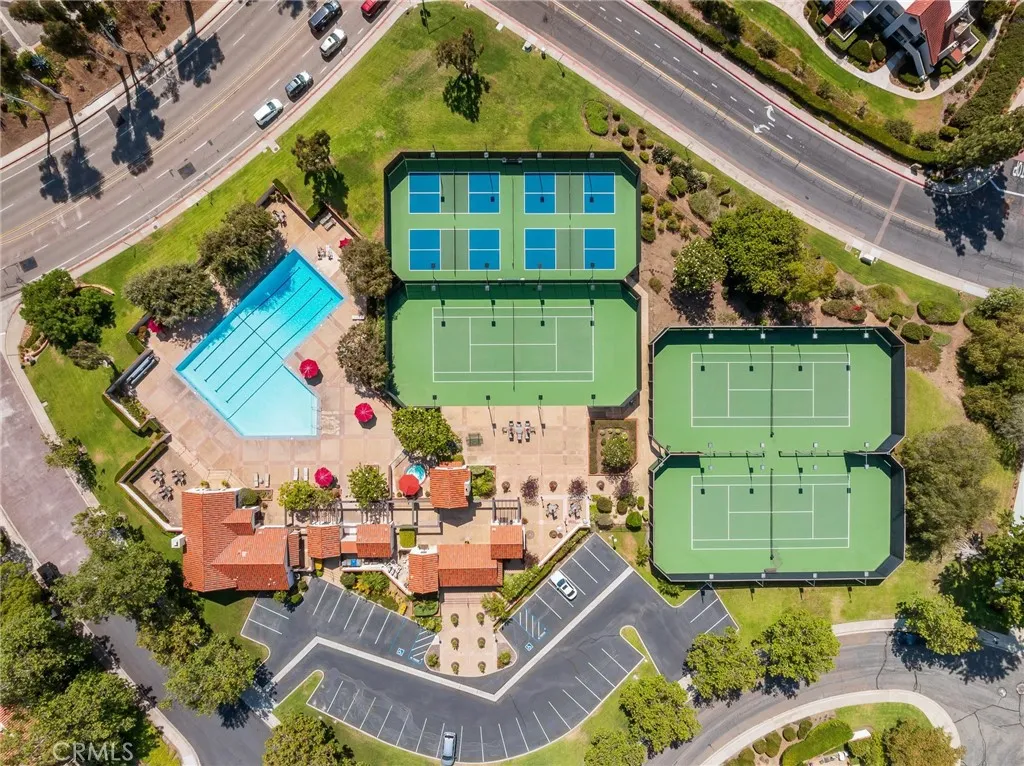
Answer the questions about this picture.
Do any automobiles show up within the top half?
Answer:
Yes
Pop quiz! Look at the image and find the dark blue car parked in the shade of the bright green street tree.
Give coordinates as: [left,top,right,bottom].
[892,628,925,644]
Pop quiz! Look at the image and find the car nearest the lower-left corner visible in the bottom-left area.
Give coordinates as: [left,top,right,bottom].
[44,560,72,594]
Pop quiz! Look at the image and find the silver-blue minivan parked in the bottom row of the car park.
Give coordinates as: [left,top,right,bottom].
[440,729,456,765]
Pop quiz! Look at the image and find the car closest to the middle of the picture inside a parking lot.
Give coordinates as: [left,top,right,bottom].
[550,569,578,601]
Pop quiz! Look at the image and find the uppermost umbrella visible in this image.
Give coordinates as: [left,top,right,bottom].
[339,234,356,251]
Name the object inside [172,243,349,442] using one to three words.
swimming pool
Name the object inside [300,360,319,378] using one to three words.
umbrella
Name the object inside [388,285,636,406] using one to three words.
tennis court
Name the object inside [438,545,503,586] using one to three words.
building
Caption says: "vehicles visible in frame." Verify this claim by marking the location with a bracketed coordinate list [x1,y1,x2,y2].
[318,28,347,58]
[892,628,925,644]
[360,0,388,17]
[440,729,456,765]
[44,560,72,594]
[550,569,578,601]
[283,72,314,101]
[308,1,341,34]
[252,99,283,127]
